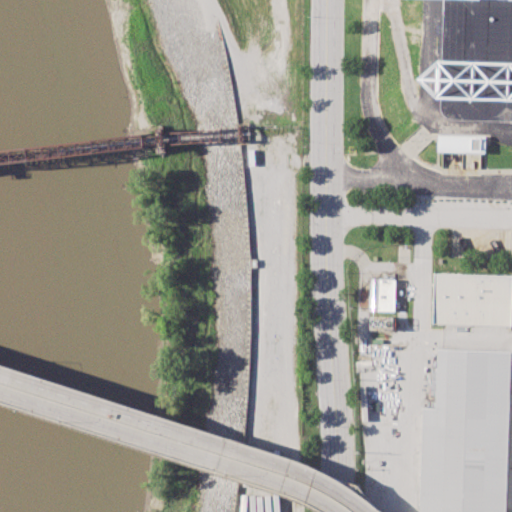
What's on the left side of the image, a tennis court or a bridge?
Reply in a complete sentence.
The one visible on the left side of the image is a bridge.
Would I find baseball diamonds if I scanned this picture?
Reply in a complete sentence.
No, I find no baseball diamond anywhere in the image.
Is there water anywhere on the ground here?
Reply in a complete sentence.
Yes, some water is visible.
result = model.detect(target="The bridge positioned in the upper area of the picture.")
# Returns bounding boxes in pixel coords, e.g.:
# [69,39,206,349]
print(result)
[0,124,248,166]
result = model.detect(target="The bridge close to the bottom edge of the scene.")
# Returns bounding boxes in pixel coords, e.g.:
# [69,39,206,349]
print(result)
[0,365,378,512]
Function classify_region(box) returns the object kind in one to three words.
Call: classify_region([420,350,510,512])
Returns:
building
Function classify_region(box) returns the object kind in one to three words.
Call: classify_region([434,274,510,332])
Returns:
building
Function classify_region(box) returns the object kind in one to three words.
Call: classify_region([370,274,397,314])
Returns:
house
